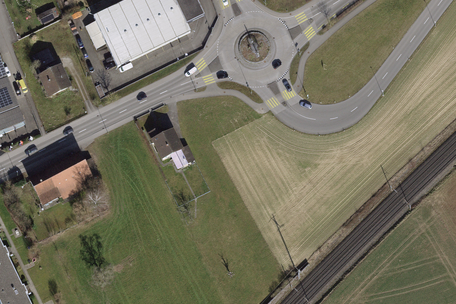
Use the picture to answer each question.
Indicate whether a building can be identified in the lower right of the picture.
No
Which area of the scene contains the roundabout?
top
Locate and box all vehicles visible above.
[26,145,38,154]
[20,80,27,92]
[185,66,198,76]
[102,56,112,64]
[10,168,22,177]
[86,58,94,72]
[76,35,84,48]
[218,72,228,78]
[300,100,313,108]
[272,58,282,70]
[82,46,89,58]
[102,62,114,70]
[137,92,148,100]
[4,65,12,76]
[284,79,292,92]
[64,127,74,135]
[121,63,134,72]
